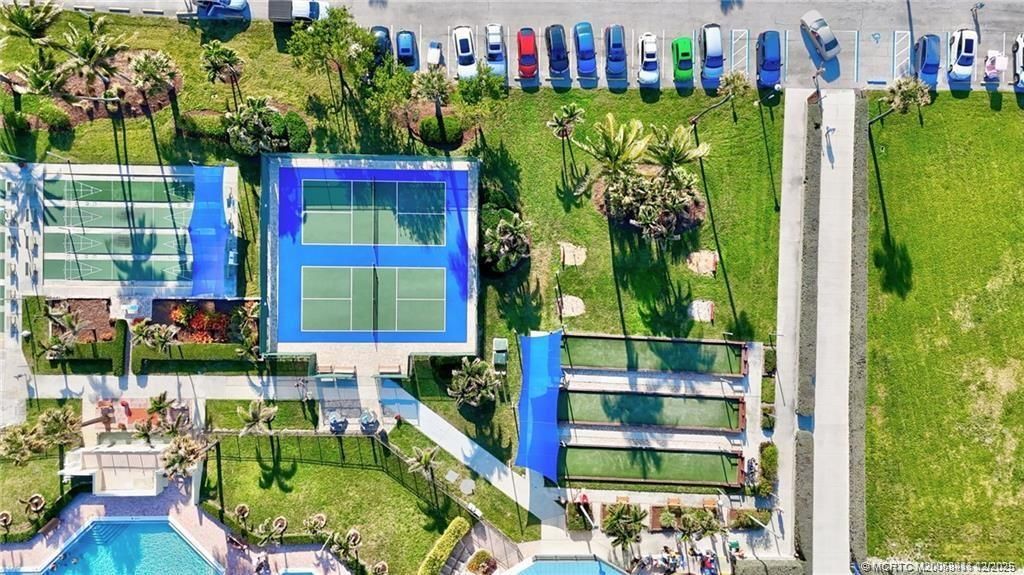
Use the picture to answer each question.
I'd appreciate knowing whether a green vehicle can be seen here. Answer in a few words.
Yes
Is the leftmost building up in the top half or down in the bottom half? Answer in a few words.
bottom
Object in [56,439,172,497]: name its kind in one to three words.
building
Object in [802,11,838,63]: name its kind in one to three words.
car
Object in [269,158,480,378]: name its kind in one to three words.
sports court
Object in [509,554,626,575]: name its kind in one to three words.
swimming pool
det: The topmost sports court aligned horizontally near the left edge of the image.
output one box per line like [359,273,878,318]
[44,180,193,203]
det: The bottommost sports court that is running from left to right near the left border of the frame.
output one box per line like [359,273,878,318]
[44,259,193,282]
